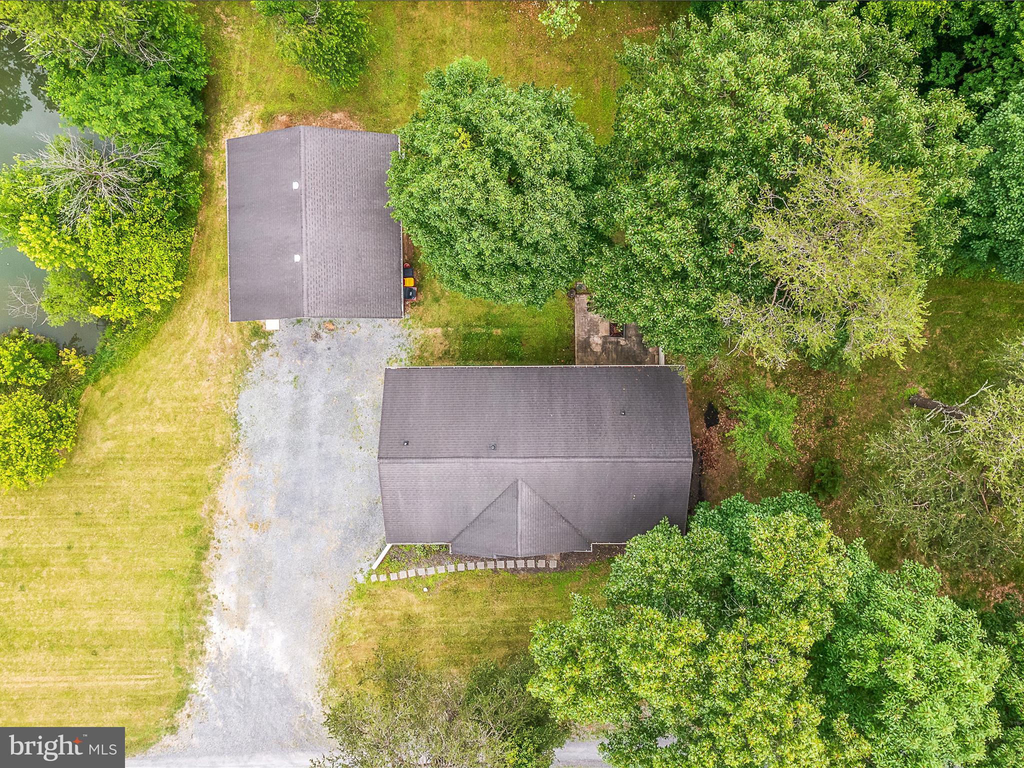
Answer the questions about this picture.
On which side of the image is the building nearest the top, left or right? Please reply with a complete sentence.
The building nearest the top sits on the left side.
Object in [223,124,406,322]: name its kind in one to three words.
building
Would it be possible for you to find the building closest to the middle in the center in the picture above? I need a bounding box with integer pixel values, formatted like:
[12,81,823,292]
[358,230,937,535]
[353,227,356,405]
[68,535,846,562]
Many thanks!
[378,365,694,559]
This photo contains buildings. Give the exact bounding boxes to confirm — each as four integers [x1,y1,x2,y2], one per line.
[223,124,406,322]
[378,365,694,559]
